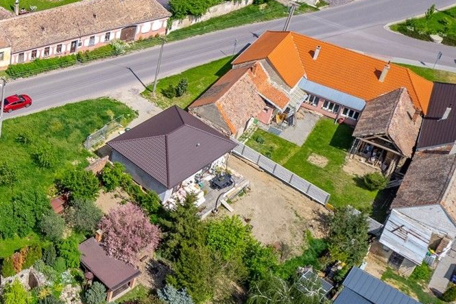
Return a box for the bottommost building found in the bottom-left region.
[78,238,140,304]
